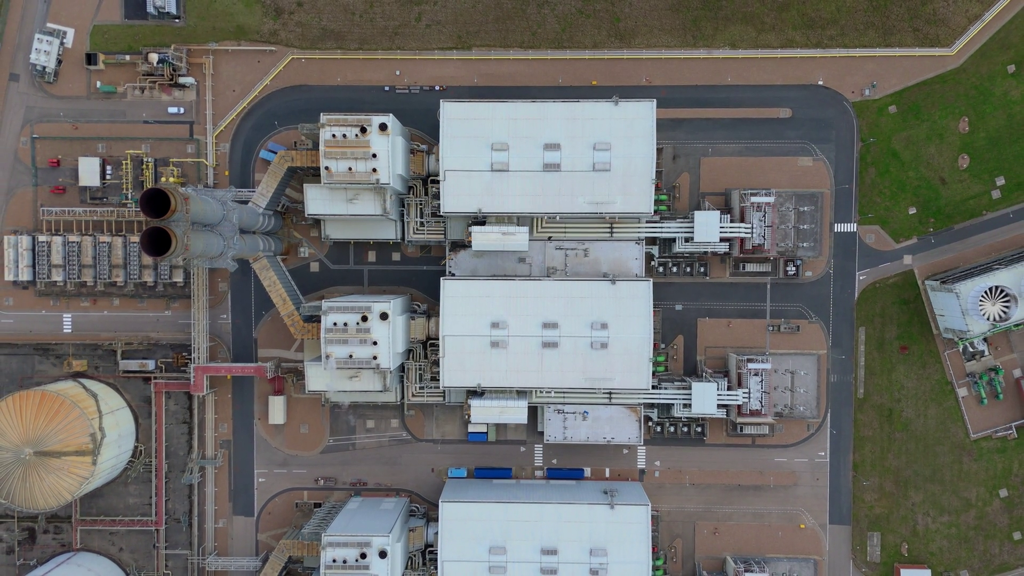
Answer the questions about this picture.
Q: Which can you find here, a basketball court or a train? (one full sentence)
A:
The image shows a train.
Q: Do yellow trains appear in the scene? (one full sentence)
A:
Yes, this view includes a yellow train.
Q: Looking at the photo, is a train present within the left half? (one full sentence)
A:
Yes, you'll find a train within the left half.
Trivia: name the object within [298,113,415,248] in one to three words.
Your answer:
building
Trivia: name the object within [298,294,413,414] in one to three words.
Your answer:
building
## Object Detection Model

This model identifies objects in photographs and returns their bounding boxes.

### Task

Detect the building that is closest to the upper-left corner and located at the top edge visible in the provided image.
[32,27,70,80]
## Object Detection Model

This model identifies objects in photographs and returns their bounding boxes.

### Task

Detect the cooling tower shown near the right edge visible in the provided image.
[921,240,1024,339]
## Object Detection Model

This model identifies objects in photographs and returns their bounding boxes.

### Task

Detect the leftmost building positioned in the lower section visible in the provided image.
[269,395,286,424]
